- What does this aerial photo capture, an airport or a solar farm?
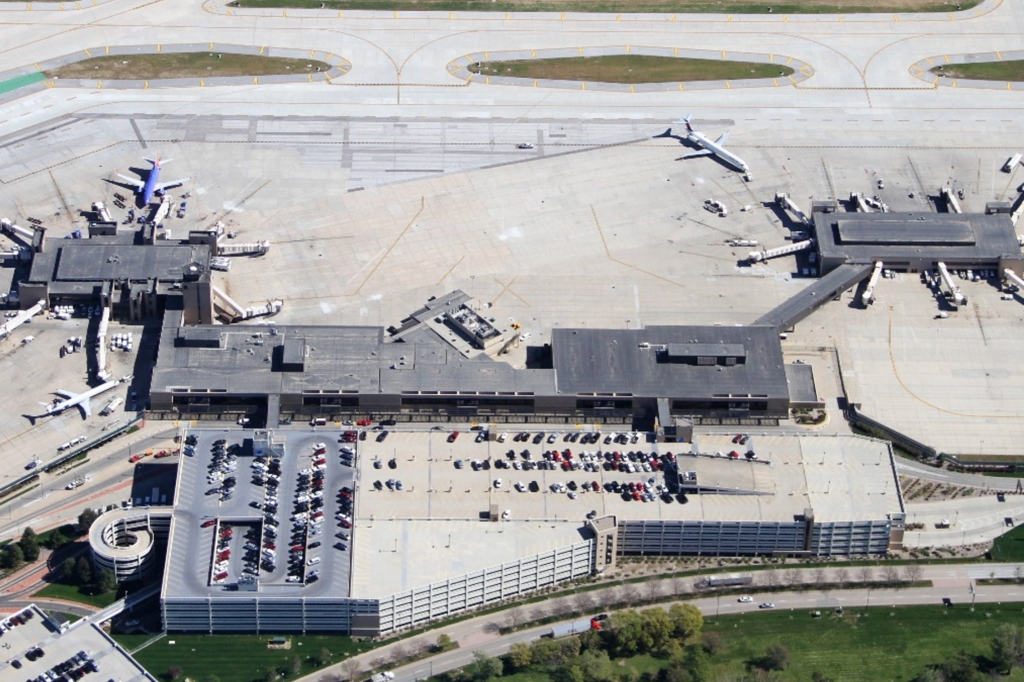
airport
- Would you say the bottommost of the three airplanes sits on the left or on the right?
left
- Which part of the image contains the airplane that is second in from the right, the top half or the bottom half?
top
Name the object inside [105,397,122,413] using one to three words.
vehicle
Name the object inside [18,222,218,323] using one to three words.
building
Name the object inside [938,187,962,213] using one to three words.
jet bridge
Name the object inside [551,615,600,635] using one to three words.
vehicle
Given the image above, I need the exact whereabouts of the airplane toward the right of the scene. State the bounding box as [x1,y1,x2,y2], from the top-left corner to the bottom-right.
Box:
[679,117,748,172]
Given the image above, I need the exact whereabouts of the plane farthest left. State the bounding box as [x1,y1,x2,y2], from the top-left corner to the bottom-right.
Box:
[36,381,119,422]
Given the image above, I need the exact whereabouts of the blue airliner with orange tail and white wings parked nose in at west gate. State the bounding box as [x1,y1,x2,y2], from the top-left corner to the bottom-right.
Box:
[117,146,187,205]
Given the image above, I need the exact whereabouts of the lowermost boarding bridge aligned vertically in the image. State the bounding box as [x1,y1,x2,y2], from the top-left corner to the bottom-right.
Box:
[97,309,110,383]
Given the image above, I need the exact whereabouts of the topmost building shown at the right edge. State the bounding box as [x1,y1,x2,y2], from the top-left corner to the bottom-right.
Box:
[811,201,1024,278]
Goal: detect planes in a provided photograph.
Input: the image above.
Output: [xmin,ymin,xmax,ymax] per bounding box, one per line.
[679,117,748,172]
[117,146,187,205]
[36,381,119,422]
